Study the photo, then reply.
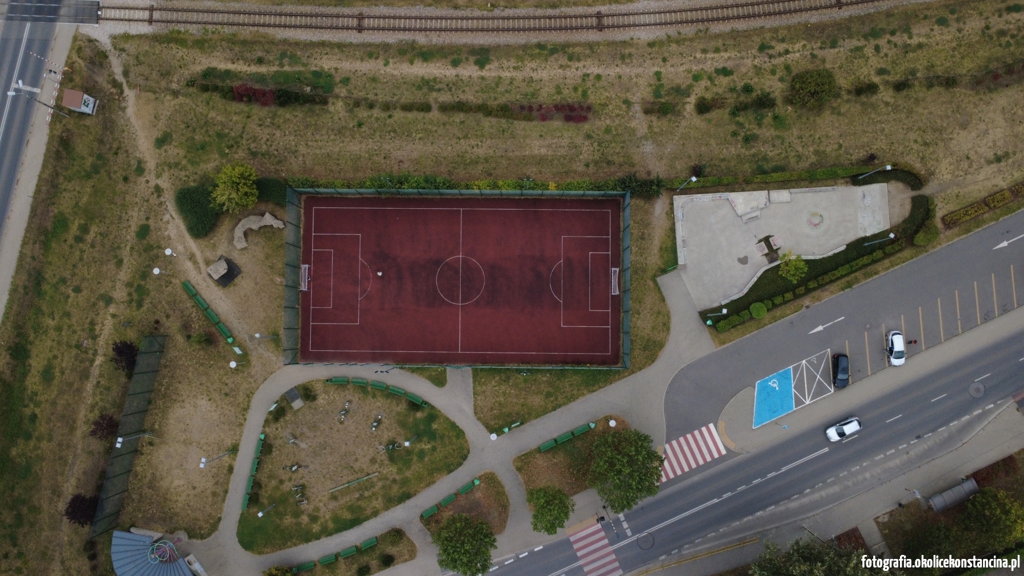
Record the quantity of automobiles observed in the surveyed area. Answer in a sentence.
The picture shows 3 automobiles.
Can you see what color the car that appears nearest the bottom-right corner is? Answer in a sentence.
The color of the car that appears nearest the bottom-right corner is white.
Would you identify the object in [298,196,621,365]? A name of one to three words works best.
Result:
sports field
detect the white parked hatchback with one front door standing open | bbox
[881,331,908,366]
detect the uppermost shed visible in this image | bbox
[62,89,100,115]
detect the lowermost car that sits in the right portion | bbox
[826,416,863,441]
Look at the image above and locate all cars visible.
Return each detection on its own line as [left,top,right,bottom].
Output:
[831,354,852,388]
[826,416,863,441]
[881,331,908,366]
